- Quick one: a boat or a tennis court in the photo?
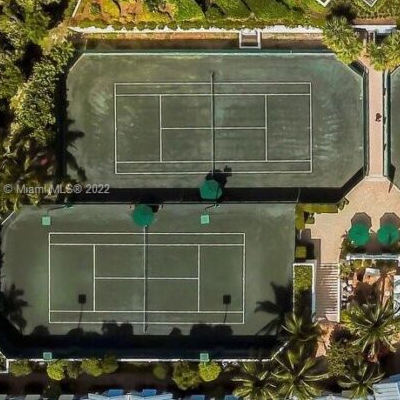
tennis court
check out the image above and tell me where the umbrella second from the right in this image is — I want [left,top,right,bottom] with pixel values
[348,223,370,245]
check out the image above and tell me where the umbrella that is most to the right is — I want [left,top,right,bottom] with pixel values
[376,223,398,245]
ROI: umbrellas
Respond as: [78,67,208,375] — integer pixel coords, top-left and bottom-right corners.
[200,180,222,200]
[376,223,398,245]
[348,223,370,245]
[132,206,155,228]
